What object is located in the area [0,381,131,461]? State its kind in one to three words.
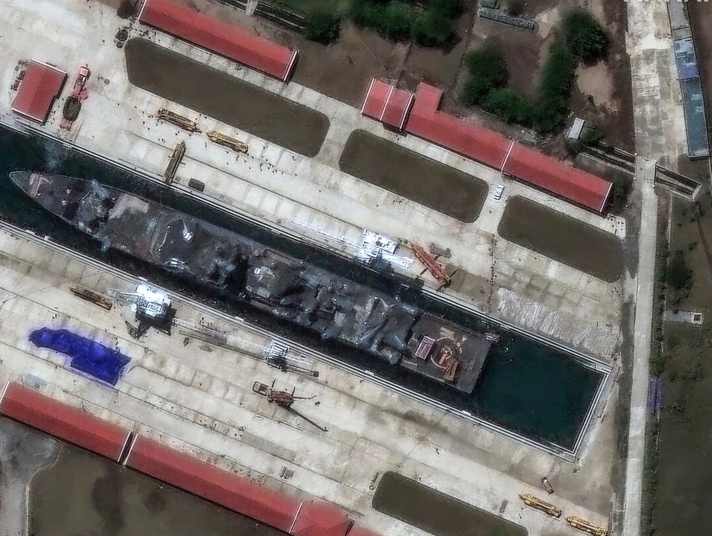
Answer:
building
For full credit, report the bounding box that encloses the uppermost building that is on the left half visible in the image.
[139,0,297,81]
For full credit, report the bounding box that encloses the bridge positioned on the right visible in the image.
[634,156,658,186]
